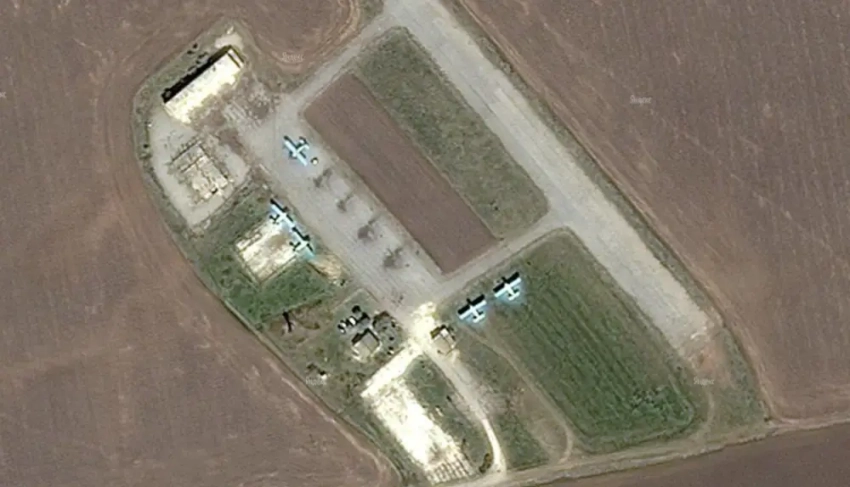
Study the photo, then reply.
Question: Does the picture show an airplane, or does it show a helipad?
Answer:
airplane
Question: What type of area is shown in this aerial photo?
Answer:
farmland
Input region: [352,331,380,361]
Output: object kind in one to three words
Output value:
house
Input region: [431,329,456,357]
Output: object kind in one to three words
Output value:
house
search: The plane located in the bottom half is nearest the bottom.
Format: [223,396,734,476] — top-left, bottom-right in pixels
[460,301,486,324]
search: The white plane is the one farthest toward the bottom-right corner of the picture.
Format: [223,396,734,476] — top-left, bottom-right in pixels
[495,280,522,303]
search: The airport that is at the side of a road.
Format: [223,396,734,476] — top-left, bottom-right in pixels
[240,0,713,358]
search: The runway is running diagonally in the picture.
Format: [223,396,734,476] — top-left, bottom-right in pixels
[387,0,713,358]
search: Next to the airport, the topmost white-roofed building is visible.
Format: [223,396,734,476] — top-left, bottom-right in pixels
[164,51,243,118]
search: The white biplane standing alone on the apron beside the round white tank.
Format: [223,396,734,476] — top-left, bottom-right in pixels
[286,140,310,165]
